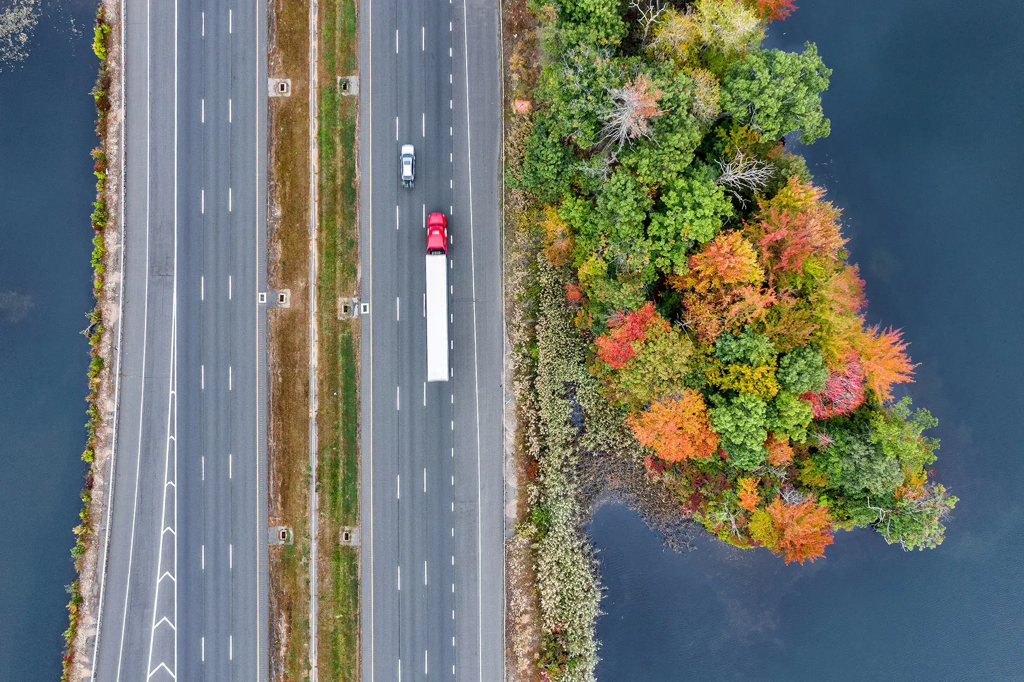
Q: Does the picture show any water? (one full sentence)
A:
Yes, the picture does contain water.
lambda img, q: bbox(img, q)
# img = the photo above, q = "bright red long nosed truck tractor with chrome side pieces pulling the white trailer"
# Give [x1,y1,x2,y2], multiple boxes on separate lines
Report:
[428,213,449,255]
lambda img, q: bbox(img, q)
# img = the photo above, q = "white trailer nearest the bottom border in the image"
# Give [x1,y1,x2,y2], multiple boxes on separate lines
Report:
[427,255,450,382]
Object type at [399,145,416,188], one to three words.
car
